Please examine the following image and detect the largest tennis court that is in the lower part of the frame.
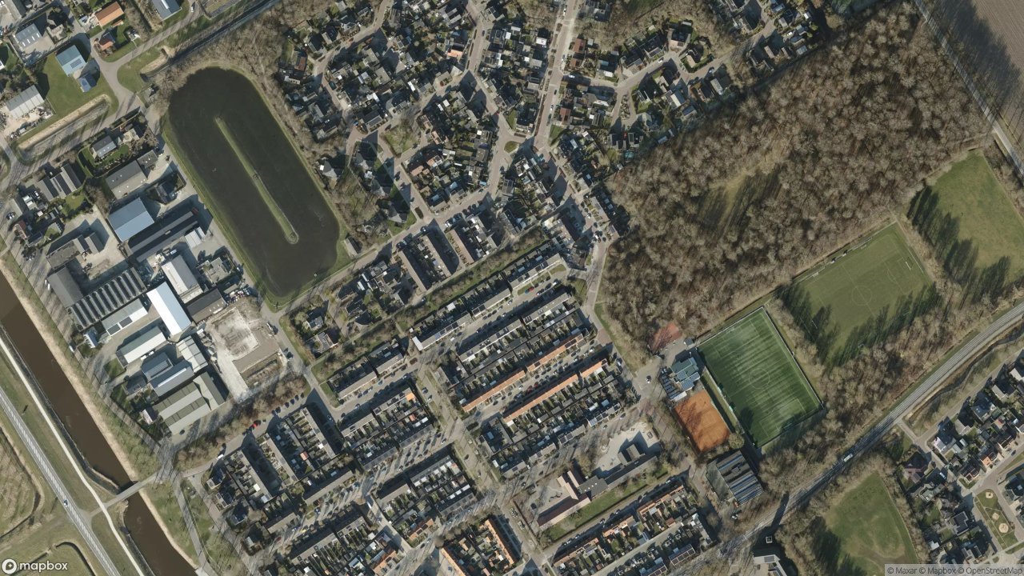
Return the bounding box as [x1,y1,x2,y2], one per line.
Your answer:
[675,391,731,452]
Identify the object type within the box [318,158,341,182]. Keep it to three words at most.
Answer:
house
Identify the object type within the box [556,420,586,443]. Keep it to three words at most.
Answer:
building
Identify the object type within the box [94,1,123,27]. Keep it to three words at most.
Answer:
barn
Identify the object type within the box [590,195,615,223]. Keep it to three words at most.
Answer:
building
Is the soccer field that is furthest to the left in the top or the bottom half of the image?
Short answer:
bottom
